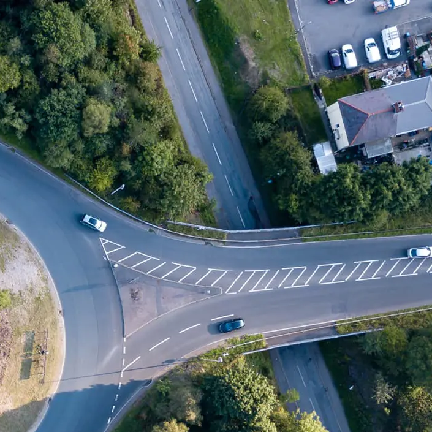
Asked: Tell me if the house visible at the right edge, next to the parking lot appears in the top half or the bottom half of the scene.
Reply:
top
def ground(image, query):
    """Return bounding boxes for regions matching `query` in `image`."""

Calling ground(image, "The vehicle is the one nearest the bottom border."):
[217,318,244,333]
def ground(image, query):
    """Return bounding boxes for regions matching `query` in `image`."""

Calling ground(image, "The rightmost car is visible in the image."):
[405,244,432,258]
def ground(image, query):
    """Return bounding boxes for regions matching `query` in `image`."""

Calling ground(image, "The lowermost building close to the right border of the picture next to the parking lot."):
[326,76,432,149]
